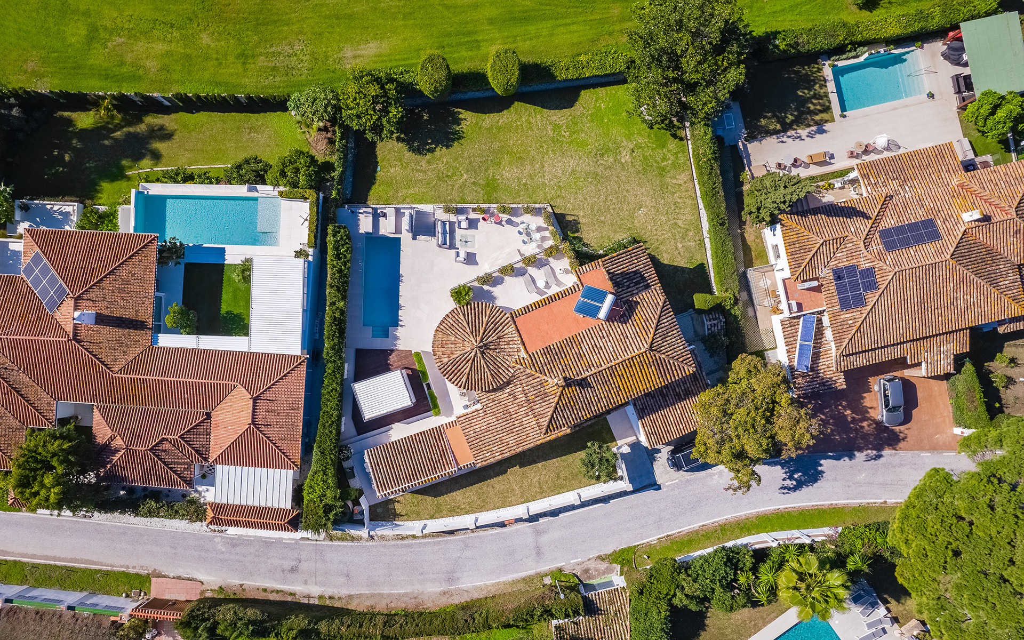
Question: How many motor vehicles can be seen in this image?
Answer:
2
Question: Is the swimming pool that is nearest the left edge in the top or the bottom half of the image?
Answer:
top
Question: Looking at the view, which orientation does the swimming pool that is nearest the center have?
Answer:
vertically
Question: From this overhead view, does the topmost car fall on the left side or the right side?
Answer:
right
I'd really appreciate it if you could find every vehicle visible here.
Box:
[875,372,907,426]
[663,441,716,477]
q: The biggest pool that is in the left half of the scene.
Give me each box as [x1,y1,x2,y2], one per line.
[139,193,280,245]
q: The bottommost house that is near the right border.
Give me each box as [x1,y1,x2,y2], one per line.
[753,140,1024,396]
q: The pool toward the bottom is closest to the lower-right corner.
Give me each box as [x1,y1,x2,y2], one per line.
[775,615,840,640]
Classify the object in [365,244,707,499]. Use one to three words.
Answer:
house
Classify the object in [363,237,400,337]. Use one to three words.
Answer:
swimming pool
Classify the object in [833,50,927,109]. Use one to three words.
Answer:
swimming pool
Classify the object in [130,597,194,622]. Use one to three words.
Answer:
building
